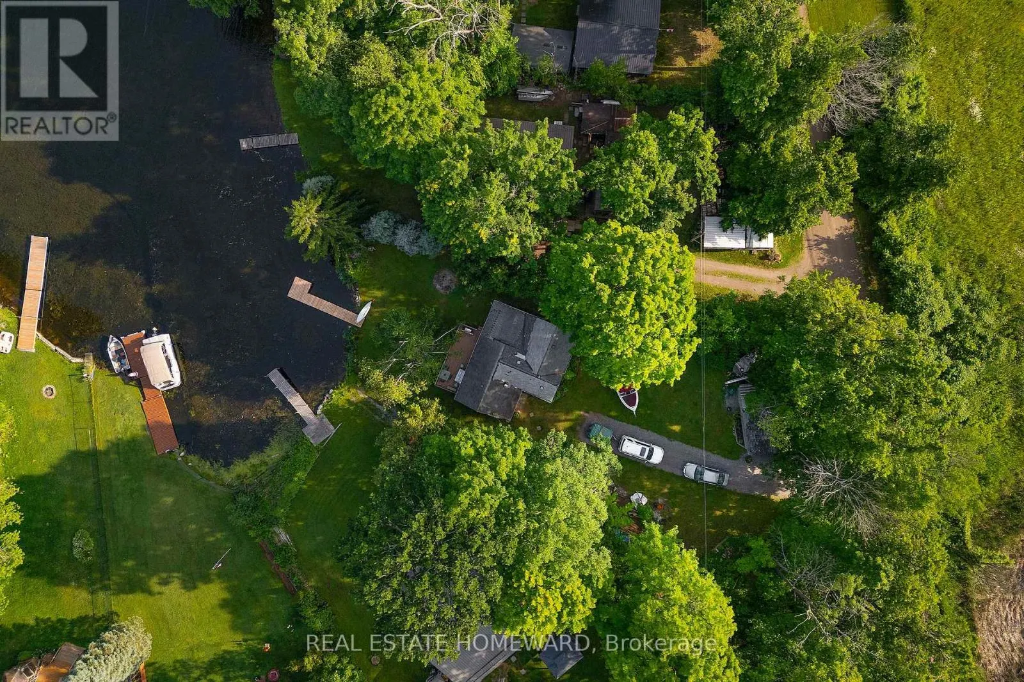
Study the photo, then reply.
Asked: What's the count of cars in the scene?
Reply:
two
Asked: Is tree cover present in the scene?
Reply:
Yes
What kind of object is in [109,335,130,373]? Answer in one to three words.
boat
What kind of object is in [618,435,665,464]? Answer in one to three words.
car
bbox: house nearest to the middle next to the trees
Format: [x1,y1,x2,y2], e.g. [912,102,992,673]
[455,300,570,421]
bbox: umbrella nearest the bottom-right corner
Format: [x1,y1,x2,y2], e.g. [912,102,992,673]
[631,492,646,506]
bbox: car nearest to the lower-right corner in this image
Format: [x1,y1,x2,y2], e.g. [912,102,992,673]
[682,461,730,488]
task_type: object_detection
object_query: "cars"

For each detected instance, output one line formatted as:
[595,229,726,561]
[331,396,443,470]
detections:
[682,461,730,488]
[618,435,665,464]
